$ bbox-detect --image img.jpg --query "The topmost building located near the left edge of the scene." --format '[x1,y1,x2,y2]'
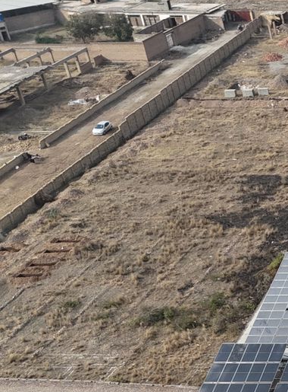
[0,0,65,43]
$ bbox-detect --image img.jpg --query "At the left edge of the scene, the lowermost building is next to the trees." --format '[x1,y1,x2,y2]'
[0,48,92,120]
